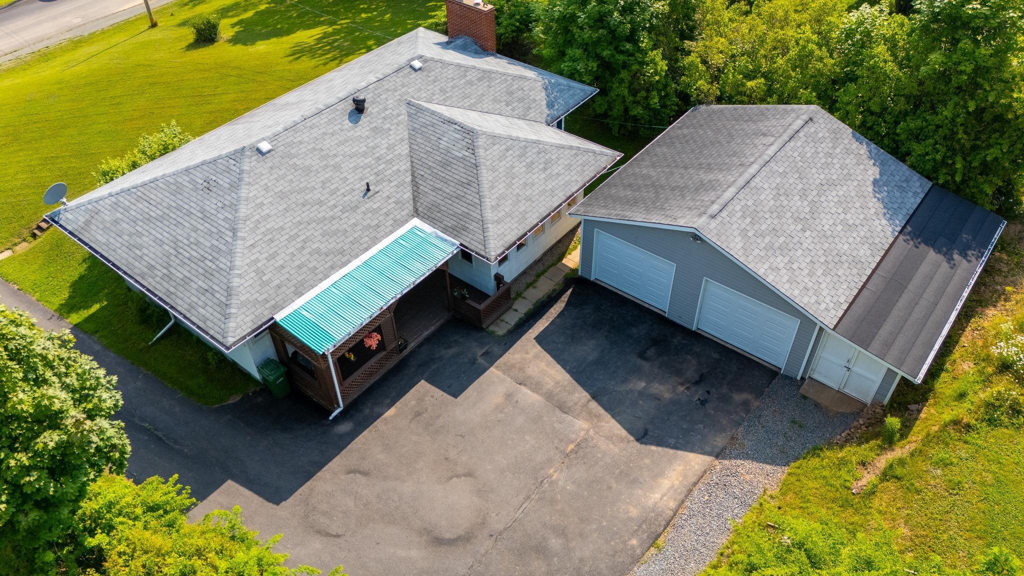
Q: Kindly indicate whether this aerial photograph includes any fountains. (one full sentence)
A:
No, this view has no fountain in it.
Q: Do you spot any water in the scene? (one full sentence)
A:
No, the picture contains no water.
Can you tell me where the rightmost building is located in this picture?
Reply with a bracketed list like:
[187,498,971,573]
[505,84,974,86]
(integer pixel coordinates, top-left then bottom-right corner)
[569,105,1008,403]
